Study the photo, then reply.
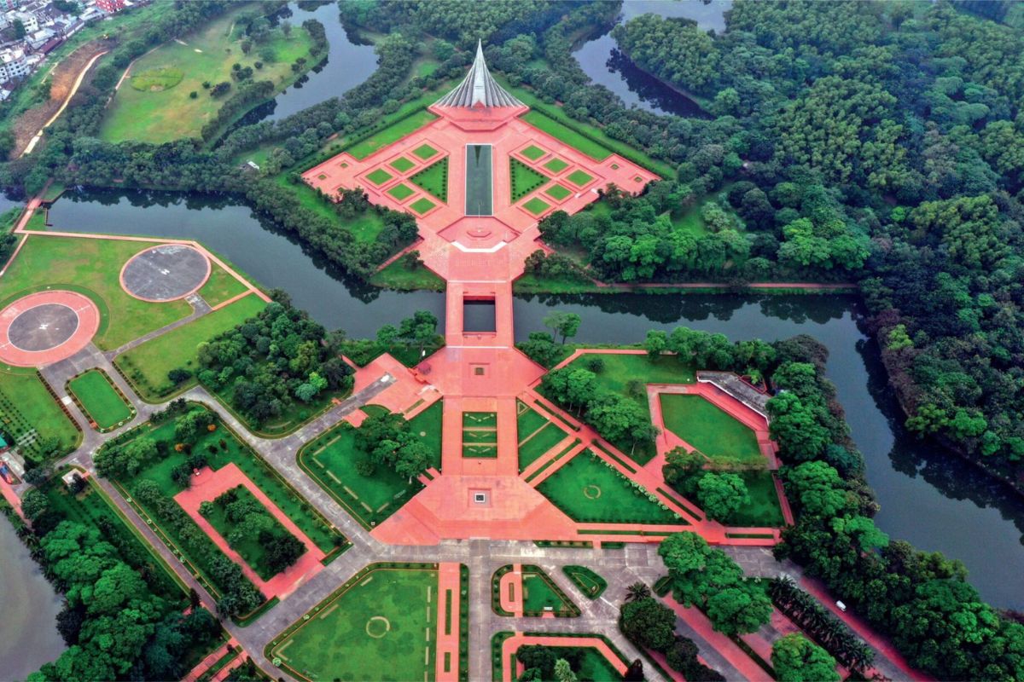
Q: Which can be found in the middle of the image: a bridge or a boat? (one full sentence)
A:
The one visible in the middle of the image is a bridge.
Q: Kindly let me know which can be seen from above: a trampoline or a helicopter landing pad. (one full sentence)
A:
This aerial view contains a helicopter landing pad.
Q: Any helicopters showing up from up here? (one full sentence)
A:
No, the photo shows no helicopter.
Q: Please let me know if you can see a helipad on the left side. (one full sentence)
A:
Yes, there is a helipad on the left side.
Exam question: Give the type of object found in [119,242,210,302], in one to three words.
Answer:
helipad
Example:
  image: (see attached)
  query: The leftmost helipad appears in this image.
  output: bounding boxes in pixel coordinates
[0,289,100,367]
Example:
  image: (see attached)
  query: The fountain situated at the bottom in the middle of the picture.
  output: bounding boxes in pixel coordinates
[468,489,492,507]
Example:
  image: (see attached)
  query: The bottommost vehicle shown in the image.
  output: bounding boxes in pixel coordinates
[834,597,849,613]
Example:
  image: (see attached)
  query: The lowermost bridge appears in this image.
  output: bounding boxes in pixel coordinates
[446,281,514,346]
